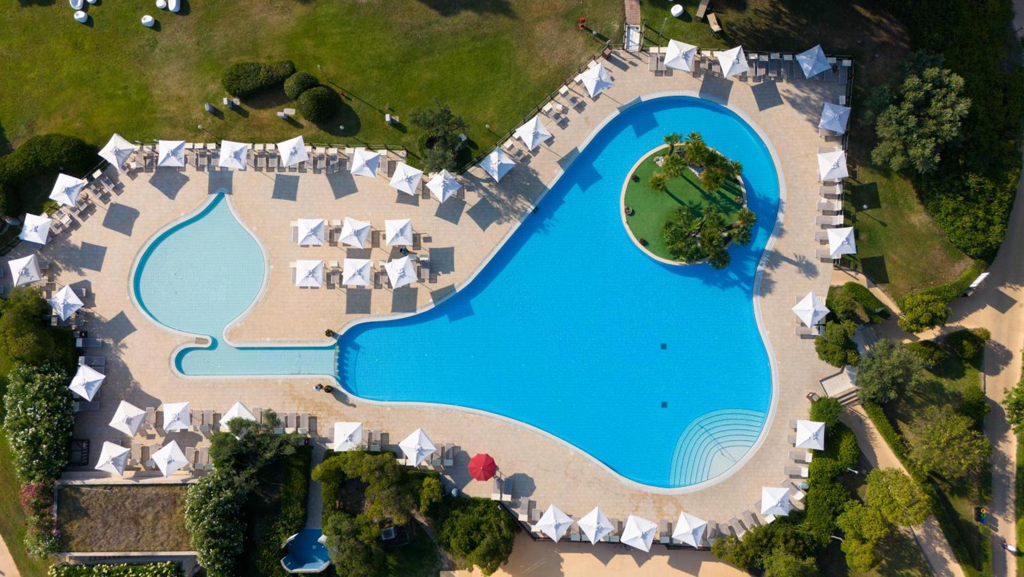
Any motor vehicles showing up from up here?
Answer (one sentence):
No, there's no motor vehicle here.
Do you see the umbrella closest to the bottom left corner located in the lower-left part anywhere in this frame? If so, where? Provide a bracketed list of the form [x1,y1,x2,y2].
[98,441,132,475]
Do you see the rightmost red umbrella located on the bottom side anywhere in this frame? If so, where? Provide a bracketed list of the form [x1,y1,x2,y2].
[468,452,497,481]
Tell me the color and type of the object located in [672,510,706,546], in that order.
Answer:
white umbrella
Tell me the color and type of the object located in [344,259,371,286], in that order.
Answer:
white umbrella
